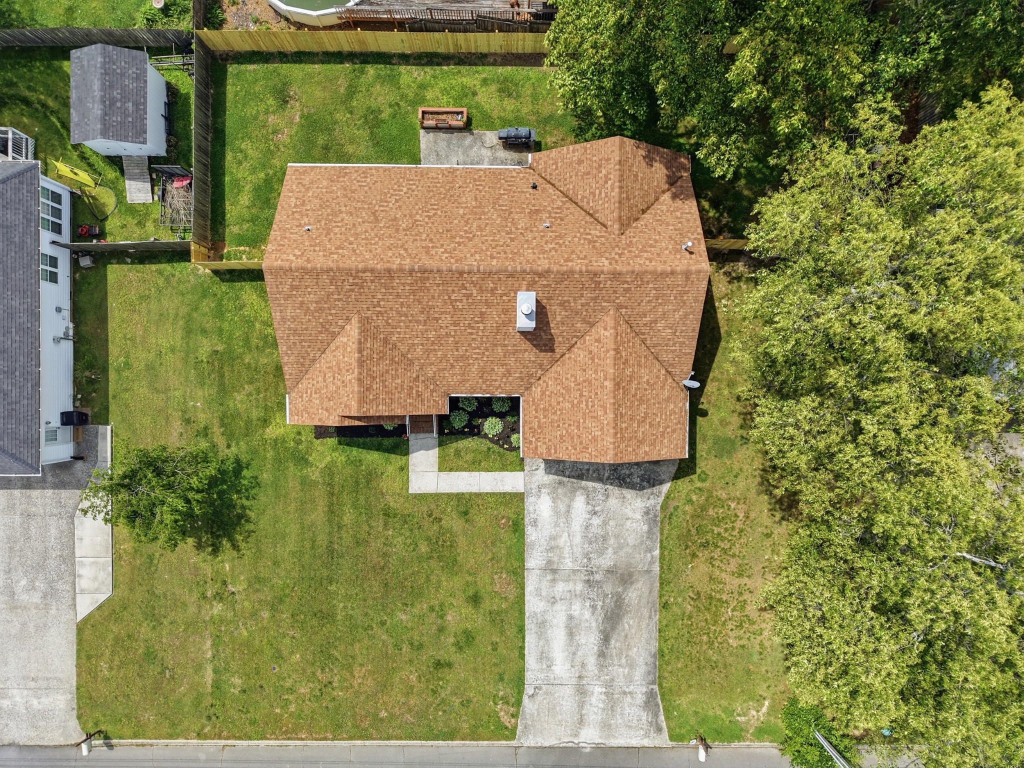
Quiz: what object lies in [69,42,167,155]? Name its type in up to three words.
shed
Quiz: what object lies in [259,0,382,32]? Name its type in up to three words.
swimming pool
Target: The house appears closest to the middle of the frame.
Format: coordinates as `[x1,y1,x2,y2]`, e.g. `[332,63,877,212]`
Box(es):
[264,137,710,464]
